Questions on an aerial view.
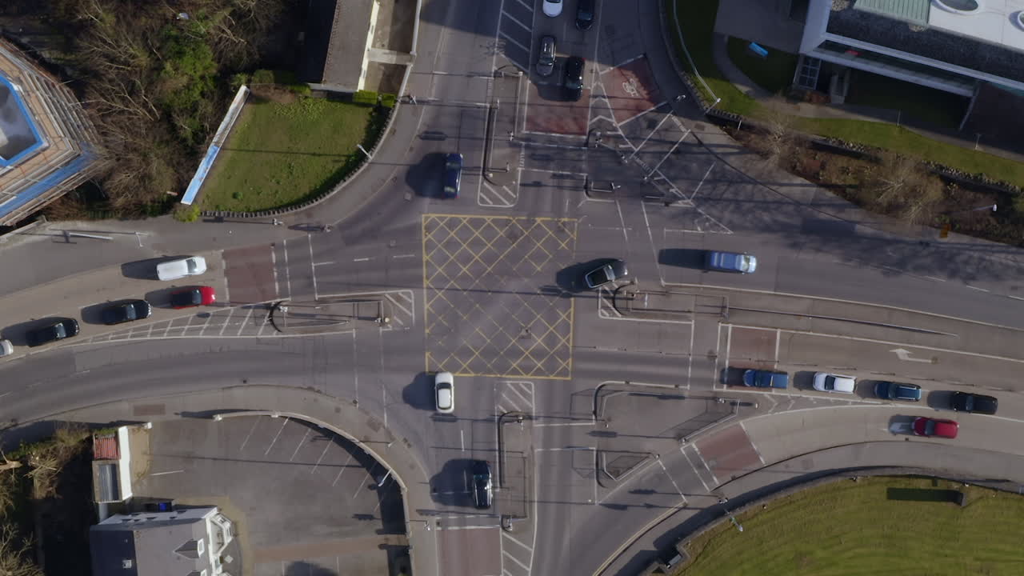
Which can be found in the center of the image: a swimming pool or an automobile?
automobile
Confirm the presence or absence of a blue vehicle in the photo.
Yes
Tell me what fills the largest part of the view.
paved ground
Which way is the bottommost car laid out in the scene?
from top to bottom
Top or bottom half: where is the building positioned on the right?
top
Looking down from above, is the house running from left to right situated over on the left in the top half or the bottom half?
bottom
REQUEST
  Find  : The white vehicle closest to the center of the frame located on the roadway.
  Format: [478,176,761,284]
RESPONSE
[434,372,455,412]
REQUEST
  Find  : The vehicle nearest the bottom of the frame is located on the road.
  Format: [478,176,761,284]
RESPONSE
[471,461,492,508]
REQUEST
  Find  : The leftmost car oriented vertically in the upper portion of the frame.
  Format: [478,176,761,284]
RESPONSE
[442,153,463,198]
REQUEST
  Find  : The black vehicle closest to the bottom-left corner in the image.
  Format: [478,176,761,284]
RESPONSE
[28,318,78,345]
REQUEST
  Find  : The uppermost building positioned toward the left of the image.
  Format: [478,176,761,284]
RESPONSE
[315,0,380,98]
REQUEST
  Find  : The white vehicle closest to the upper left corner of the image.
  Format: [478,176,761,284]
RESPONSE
[157,255,206,281]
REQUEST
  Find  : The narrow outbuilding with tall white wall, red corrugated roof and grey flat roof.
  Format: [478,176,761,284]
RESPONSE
[93,423,133,521]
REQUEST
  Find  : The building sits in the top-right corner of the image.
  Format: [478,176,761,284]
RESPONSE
[791,0,1024,144]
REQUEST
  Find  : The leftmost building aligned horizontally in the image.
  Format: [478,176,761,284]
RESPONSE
[89,508,237,576]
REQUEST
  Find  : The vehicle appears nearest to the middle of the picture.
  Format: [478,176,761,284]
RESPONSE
[583,259,629,288]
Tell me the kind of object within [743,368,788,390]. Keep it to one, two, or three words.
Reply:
car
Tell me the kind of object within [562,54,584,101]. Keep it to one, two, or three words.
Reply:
car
